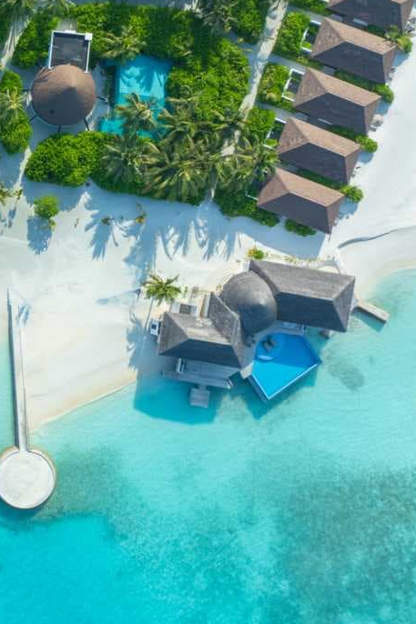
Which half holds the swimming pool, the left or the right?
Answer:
left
